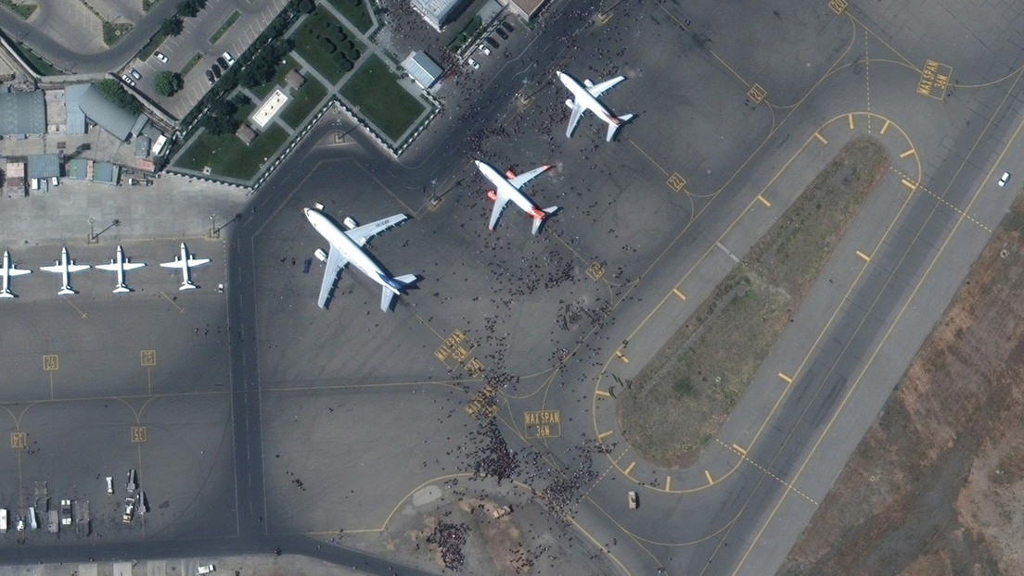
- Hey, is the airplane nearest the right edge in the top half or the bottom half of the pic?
top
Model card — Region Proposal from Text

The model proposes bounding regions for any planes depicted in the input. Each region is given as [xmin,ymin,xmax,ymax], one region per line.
[95,246,145,291]
[160,243,210,288]
[556,72,631,138]
[475,160,556,228]
[304,208,414,309]
[0,251,31,296]
[41,248,91,292]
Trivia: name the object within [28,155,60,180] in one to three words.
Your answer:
building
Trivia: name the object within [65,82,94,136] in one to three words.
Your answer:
shed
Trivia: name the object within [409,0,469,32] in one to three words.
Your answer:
building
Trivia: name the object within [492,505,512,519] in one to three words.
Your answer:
vehicle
